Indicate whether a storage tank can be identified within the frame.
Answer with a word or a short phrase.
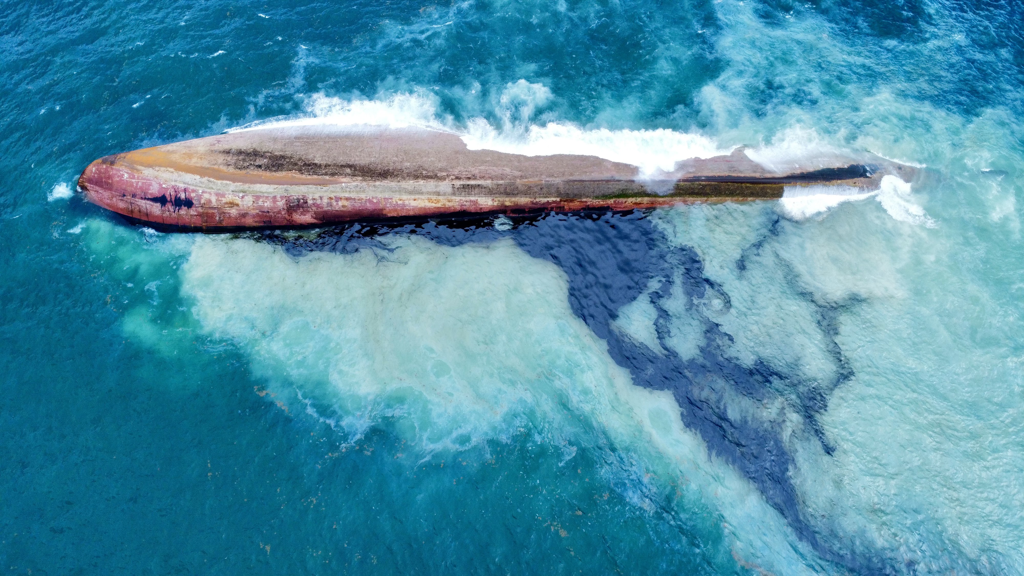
No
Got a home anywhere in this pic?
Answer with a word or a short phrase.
No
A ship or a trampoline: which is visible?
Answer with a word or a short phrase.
ship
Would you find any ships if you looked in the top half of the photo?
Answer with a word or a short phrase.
Yes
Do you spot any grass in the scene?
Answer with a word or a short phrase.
No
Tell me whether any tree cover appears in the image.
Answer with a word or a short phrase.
No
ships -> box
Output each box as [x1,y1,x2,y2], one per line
[78,127,898,232]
